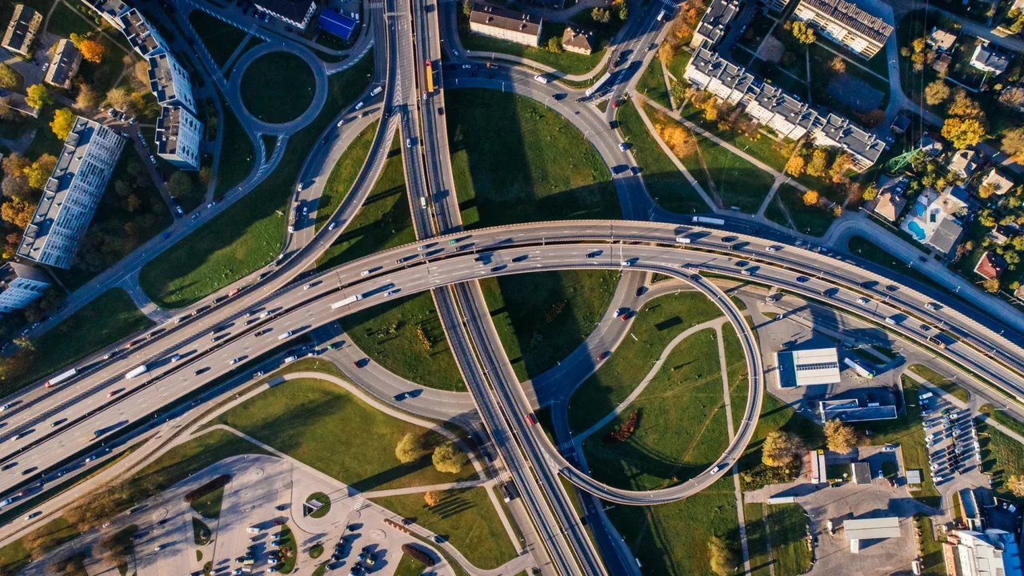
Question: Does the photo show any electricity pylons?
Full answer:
Yes, looking at the shot, I can spot an electricity pylon.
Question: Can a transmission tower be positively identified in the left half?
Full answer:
No, no transmission tower can be made out in the left half.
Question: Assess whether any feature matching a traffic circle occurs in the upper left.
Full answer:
Yes, you'll find a traffic circle in the upper left.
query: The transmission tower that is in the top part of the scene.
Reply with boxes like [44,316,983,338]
[885,144,934,176]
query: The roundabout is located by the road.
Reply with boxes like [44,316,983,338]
[229,40,327,134]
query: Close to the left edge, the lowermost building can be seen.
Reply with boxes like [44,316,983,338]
[0,262,51,319]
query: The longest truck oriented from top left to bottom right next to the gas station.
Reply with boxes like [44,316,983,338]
[841,355,873,378]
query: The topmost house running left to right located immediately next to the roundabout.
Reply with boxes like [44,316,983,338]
[253,0,318,29]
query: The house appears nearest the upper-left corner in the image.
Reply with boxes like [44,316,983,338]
[2,4,42,54]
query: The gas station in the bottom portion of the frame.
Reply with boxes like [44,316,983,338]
[773,348,841,388]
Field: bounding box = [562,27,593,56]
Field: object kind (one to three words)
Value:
house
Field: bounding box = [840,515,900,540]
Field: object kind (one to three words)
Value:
shed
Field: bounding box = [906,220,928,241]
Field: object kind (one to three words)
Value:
swimming pool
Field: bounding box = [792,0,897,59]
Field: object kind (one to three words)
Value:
building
